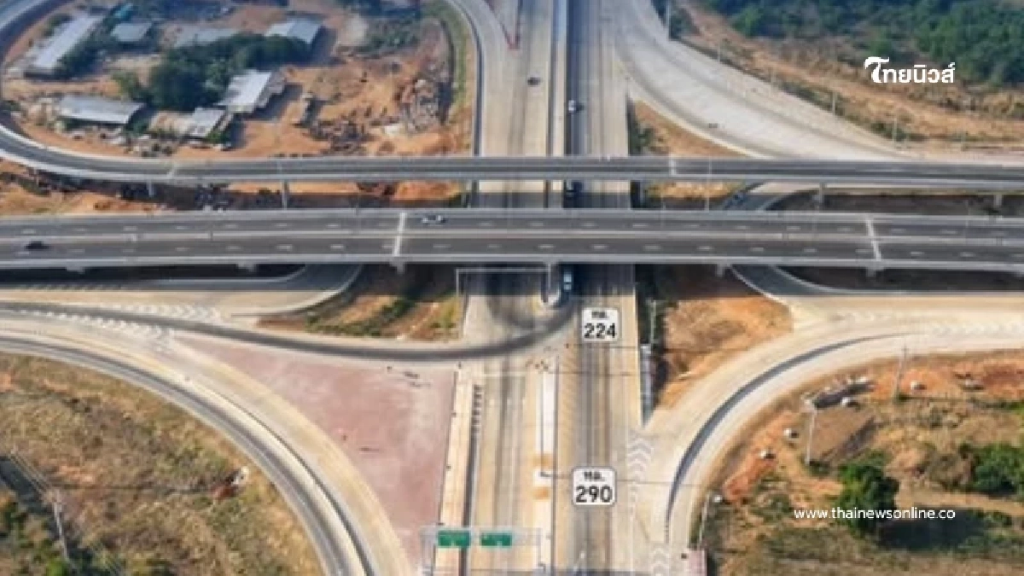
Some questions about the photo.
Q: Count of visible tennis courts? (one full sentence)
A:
No tennis courts are visible.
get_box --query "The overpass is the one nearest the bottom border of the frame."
[0,209,1024,280]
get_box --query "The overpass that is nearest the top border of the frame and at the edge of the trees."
[0,0,1024,203]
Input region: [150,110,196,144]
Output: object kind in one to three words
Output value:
shed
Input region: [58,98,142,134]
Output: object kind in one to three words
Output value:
shed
